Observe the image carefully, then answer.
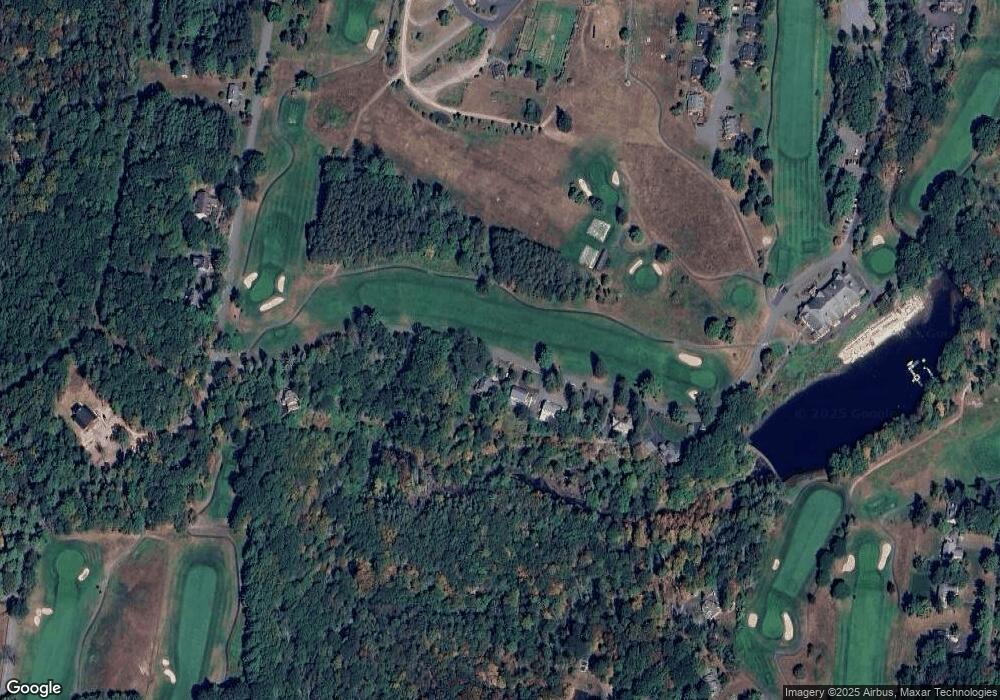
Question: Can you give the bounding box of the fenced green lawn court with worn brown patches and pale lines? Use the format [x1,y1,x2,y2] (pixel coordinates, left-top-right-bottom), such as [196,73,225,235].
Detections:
[527,1,579,75]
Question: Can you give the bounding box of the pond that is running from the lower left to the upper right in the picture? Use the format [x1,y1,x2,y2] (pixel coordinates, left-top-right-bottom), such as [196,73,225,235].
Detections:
[752,270,968,481]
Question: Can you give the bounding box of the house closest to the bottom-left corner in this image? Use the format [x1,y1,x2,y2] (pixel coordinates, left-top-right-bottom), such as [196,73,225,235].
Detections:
[64,400,100,427]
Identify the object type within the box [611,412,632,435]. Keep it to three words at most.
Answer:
house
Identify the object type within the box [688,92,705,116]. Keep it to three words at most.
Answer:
house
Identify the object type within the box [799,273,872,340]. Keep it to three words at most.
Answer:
building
